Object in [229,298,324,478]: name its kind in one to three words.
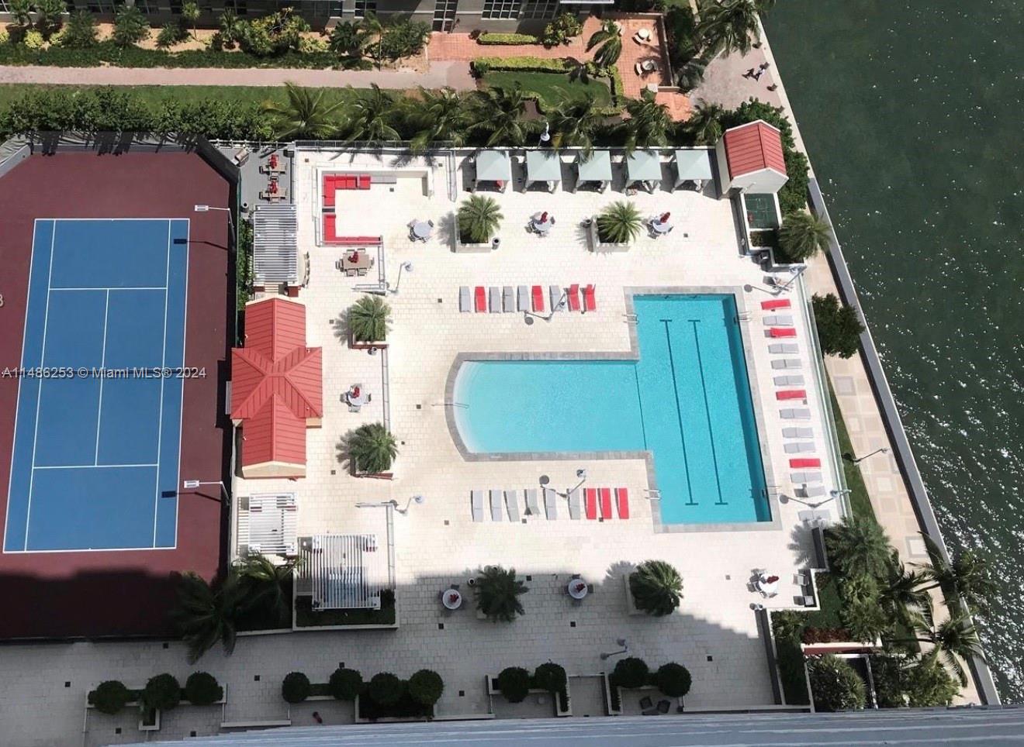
building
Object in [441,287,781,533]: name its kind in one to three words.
swimming pool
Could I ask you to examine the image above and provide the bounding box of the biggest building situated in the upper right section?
[715,121,791,195]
